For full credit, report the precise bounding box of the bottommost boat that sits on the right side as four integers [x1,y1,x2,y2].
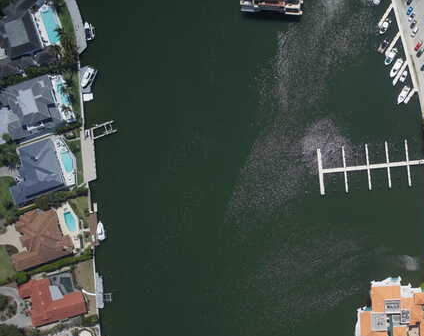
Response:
[398,84,412,103]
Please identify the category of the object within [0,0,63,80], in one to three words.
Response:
house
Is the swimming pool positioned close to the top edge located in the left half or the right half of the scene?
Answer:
left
